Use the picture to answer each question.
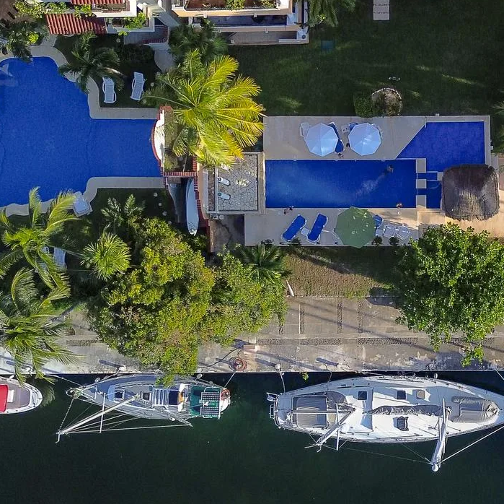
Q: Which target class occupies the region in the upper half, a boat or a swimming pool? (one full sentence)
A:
Visible in the upper half is a swimming pool.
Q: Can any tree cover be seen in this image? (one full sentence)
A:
Yes, some tree cover is visible.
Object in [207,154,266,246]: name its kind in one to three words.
building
